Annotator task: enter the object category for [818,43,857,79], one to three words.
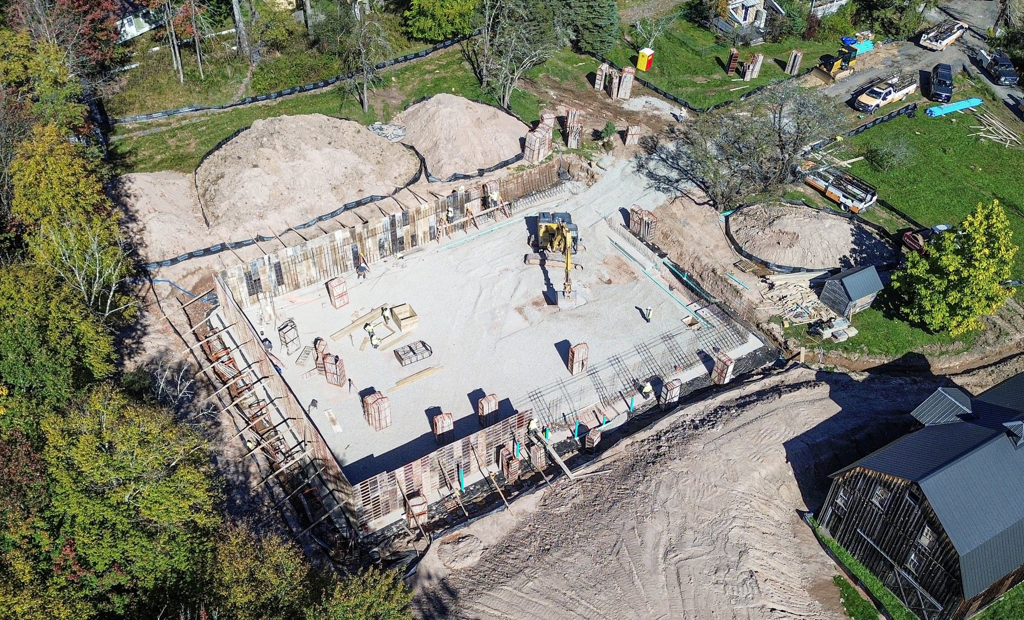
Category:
work vehicle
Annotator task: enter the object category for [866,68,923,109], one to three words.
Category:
truck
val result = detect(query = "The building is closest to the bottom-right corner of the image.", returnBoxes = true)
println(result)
[818,361,1024,620]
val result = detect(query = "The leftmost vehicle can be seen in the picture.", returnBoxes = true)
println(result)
[525,221,582,310]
